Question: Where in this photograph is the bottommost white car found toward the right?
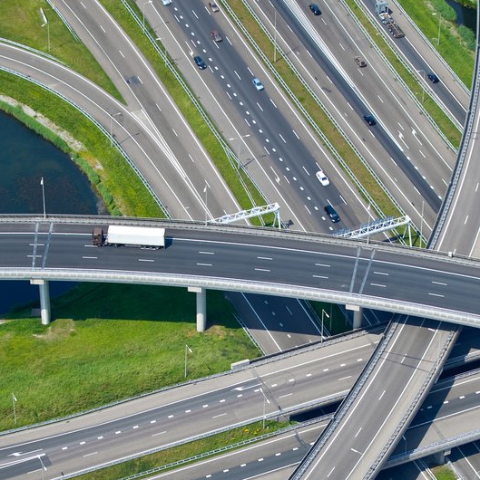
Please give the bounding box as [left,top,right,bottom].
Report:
[315,172,329,184]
